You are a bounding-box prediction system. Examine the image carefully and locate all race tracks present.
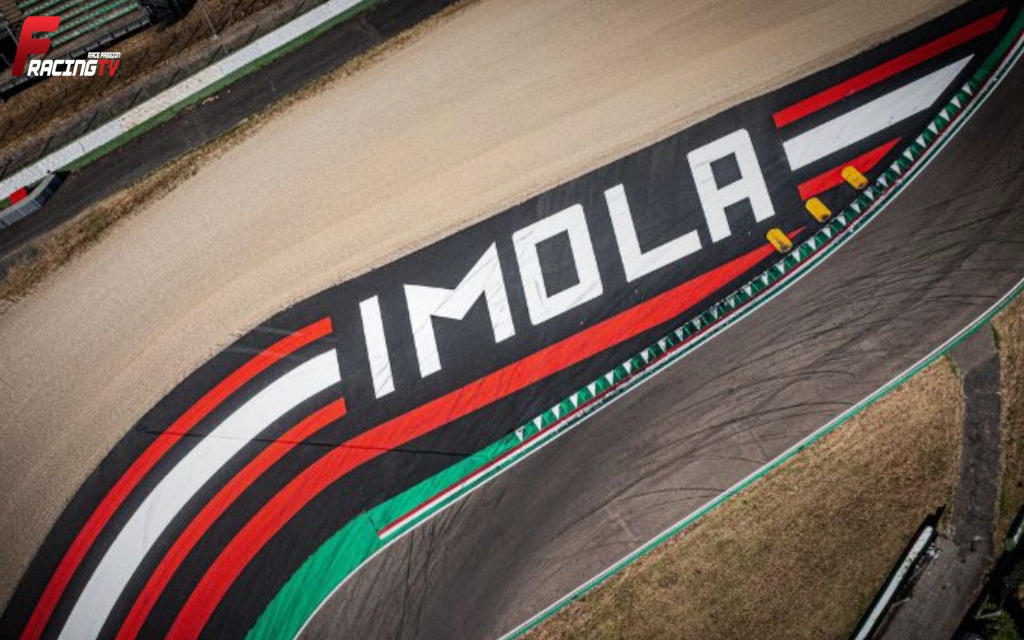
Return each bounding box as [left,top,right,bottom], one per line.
[293,25,1024,640]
